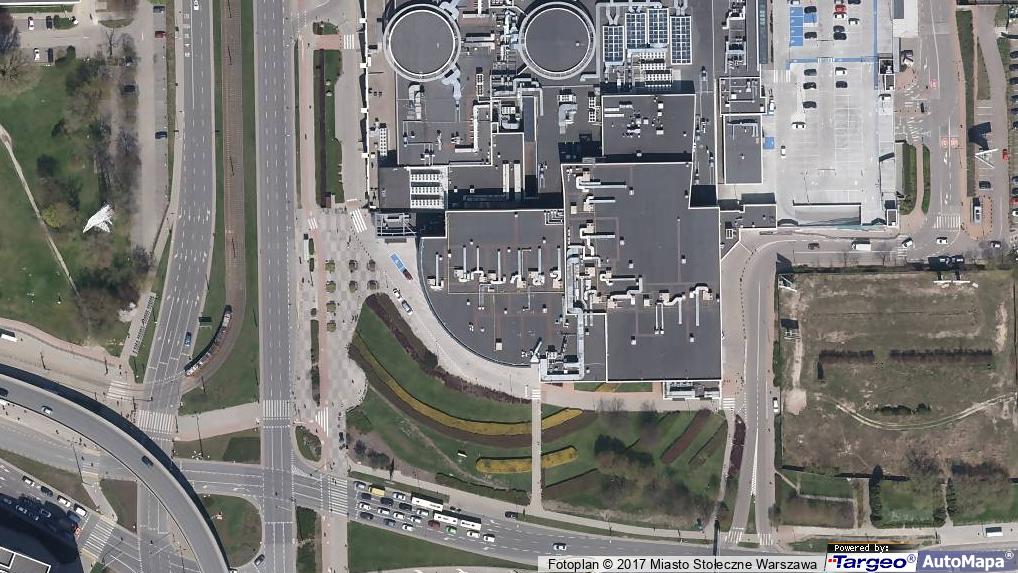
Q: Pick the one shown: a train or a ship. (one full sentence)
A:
Of the two, only a train appears.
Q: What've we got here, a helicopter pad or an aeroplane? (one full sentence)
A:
The image shows an aeroplane.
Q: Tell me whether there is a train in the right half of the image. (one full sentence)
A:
No, looking in the right half of the image, there is no train.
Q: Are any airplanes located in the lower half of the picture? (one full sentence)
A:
No, no airplane appears in the lower half of the picture.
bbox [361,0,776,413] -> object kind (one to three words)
building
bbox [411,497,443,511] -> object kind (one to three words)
vehicle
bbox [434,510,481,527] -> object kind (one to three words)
vehicle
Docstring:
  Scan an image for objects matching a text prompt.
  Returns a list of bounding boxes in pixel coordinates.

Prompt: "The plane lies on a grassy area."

[86,204,114,232]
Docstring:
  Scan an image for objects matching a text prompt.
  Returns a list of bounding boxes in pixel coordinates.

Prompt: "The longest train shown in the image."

[188,309,234,373]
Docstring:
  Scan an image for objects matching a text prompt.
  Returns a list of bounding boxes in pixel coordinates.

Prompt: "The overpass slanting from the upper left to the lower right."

[0,374,228,573]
